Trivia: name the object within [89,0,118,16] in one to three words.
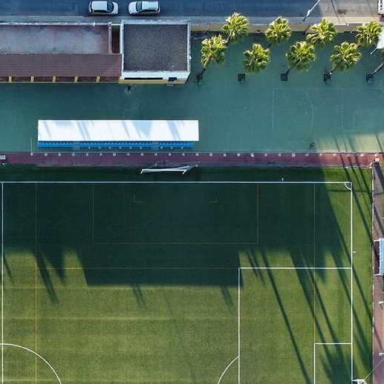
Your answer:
car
